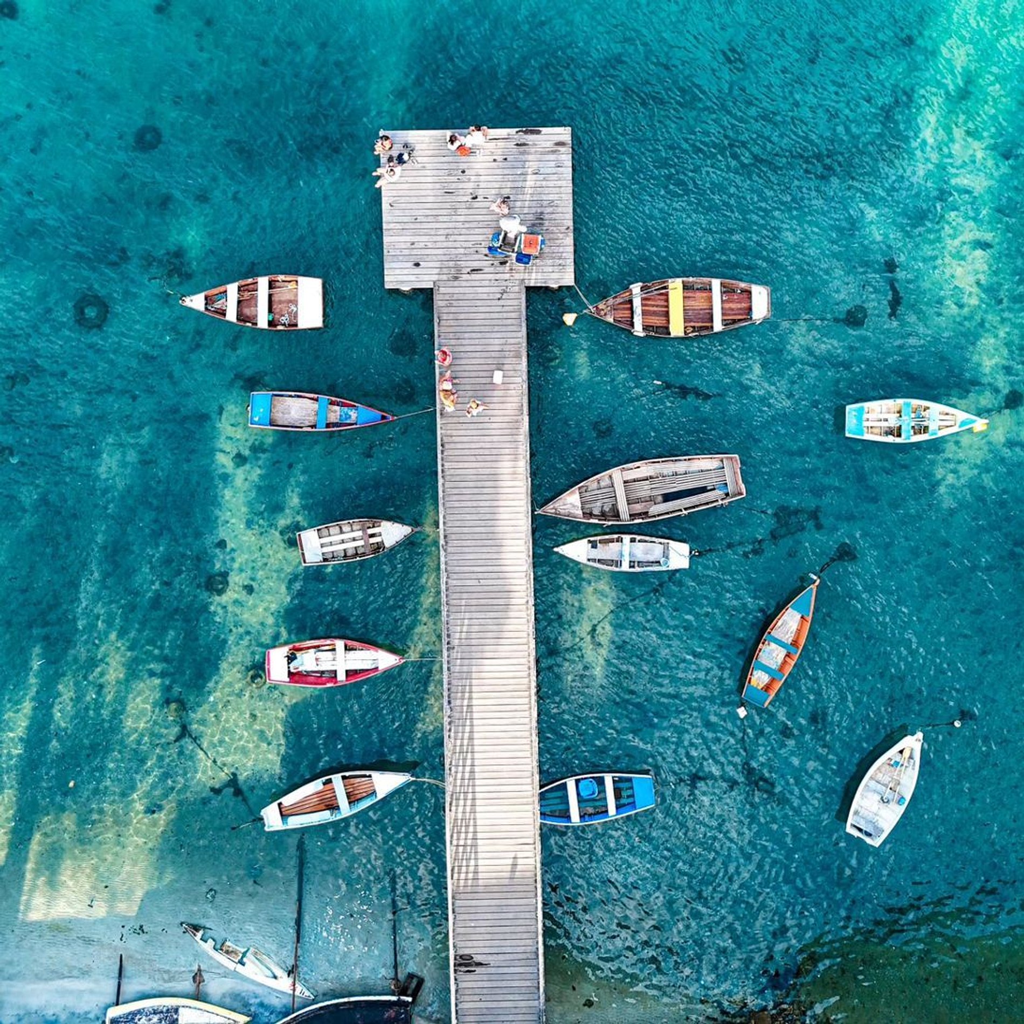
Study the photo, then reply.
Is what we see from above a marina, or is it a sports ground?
marina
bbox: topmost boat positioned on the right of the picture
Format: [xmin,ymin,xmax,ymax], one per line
[582,277,773,337]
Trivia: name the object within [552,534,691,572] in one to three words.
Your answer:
boat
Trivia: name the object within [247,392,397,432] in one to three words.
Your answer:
boat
